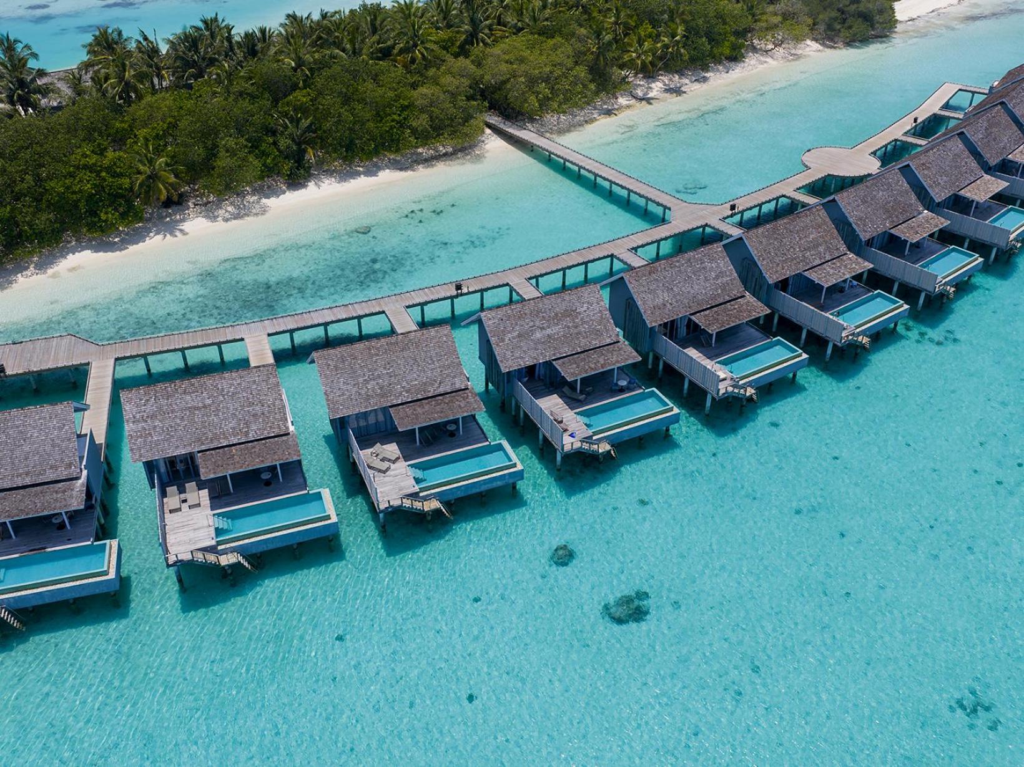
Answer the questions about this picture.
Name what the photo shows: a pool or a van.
pool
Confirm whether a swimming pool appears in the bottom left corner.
Yes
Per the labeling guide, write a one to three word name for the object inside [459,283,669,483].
house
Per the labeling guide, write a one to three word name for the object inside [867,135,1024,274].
house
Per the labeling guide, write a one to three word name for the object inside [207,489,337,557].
swimming pool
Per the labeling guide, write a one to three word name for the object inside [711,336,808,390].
swimming pool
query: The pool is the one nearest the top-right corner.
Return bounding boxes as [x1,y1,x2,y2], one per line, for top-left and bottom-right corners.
[981,205,1024,241]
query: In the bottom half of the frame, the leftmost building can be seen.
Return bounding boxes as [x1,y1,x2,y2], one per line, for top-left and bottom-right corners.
[0,402,112,556]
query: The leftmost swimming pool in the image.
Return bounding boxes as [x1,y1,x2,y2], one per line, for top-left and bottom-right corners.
[0,539,120,609]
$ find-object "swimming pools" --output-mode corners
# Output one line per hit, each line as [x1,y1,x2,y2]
[0,539,120,609]
[207,489,337,557]
[571,387,680,445]
[405,440,523,503]
[912,245,983,287]
[981,205,1024,241]
[824,290,909,338]
[711,336,808,390]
